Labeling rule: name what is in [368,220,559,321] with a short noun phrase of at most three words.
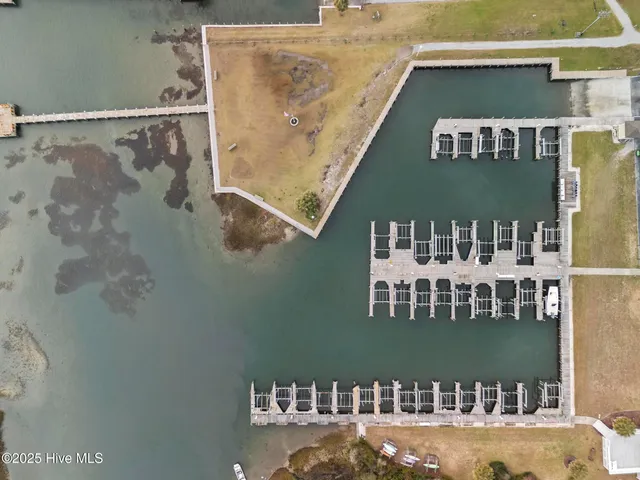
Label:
pier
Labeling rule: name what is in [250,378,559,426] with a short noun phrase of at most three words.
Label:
pier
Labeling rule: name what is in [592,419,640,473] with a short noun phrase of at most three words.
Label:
building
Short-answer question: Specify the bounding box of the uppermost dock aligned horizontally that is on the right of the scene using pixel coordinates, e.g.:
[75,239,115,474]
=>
[428,116,634,161]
